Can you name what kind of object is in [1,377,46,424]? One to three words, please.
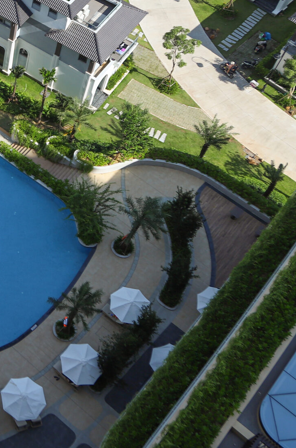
umbrella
